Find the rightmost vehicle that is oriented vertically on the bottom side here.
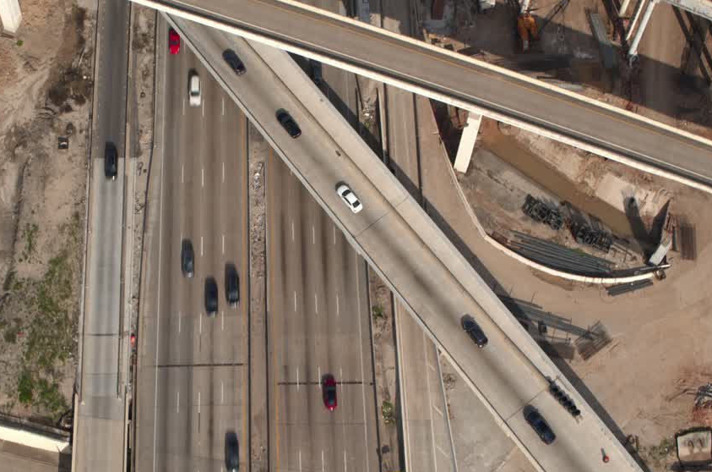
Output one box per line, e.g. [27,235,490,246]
[323,376,339,409]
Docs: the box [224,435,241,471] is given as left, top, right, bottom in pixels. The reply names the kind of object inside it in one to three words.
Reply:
car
